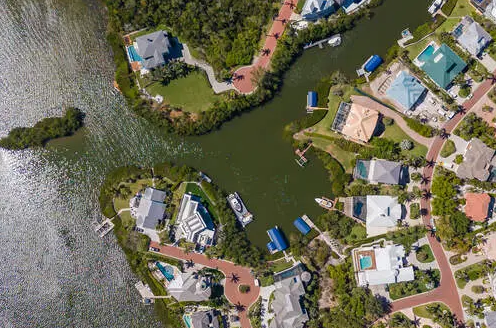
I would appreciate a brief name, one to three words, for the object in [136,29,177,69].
house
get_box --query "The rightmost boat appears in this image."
[426,0,441,16]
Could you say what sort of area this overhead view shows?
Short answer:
residential area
